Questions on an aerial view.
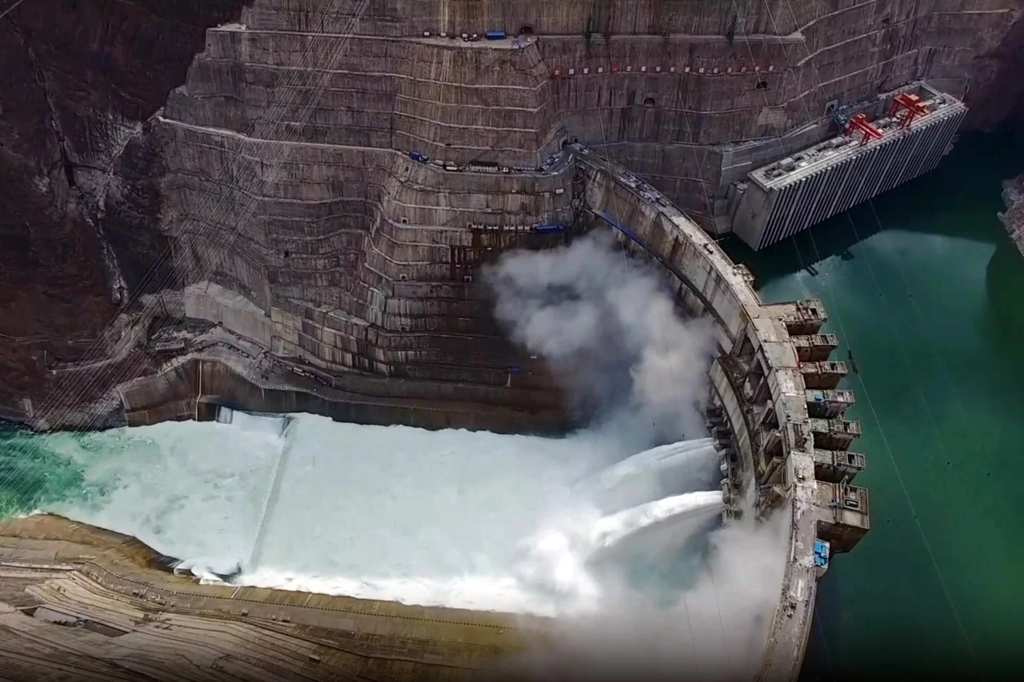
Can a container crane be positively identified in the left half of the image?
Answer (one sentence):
No, there is no container crane in the left half of the image.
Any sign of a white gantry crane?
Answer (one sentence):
No, the photo shows no white gantry crane.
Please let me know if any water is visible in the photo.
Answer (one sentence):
Yes, some water is visible.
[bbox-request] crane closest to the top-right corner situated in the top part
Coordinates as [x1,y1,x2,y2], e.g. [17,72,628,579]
[894,80,949,123]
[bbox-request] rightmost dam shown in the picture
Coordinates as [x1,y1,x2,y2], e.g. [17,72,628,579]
[562,145,871,682]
